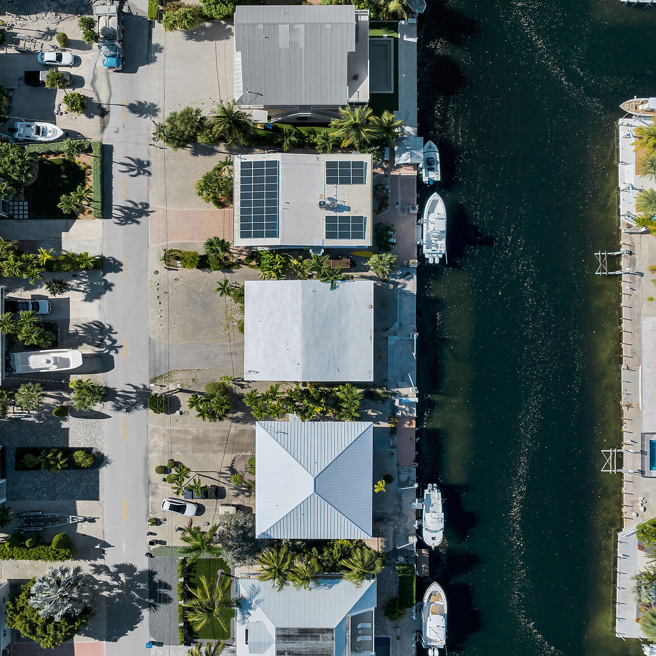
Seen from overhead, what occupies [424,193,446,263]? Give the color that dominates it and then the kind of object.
white boat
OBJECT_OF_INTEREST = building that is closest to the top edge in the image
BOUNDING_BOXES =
[234,5,369,122]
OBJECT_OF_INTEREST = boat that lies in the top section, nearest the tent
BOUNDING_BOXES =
[424,140,439,187]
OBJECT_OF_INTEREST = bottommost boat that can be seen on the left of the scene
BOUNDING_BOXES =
[10,350,82,373]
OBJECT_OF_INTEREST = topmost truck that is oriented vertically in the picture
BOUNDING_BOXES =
[96,0,122,74]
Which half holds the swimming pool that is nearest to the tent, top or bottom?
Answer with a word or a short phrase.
top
